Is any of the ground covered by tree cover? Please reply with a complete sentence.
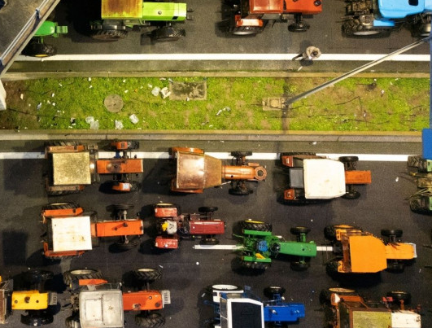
No, tree cover can't be seen anywhere here.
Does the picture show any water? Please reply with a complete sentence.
No, there's no water in this view.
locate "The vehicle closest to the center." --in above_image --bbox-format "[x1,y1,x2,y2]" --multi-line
[156,145,270,200]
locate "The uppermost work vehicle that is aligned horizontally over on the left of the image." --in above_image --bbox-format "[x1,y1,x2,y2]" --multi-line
[80,0,192,45]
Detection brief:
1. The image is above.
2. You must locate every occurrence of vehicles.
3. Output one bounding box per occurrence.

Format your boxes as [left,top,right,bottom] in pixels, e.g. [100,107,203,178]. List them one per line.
[34,136,147,197]
[265,148,371,207]
[146,201,228,255]
[80,0,192,45]
[213,0,323,37]
[0,265,58,328]
[48,263,169,328]
[13,8,67,61]
[190,274,305,328]
[30,199,147,264]
[304,279,422,328]
[309,220,415,282]
[391,150,432,218]
[329,0,432,42]
[156,145,270,200]
[225,219,317,278]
